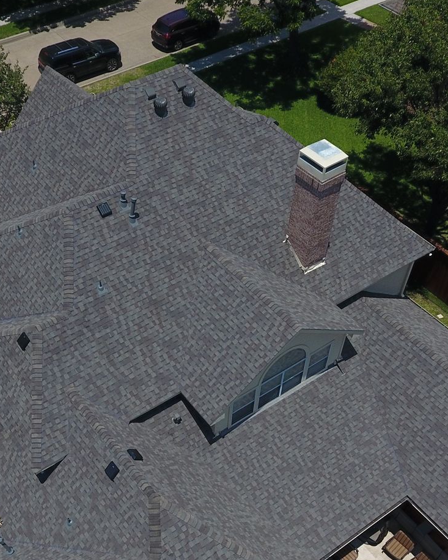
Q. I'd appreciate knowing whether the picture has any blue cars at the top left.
No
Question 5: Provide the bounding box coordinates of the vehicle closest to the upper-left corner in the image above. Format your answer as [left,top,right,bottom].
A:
[40,38,123,84]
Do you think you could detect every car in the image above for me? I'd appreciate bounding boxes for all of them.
[40,38,123,84]
[159,6,226,48]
